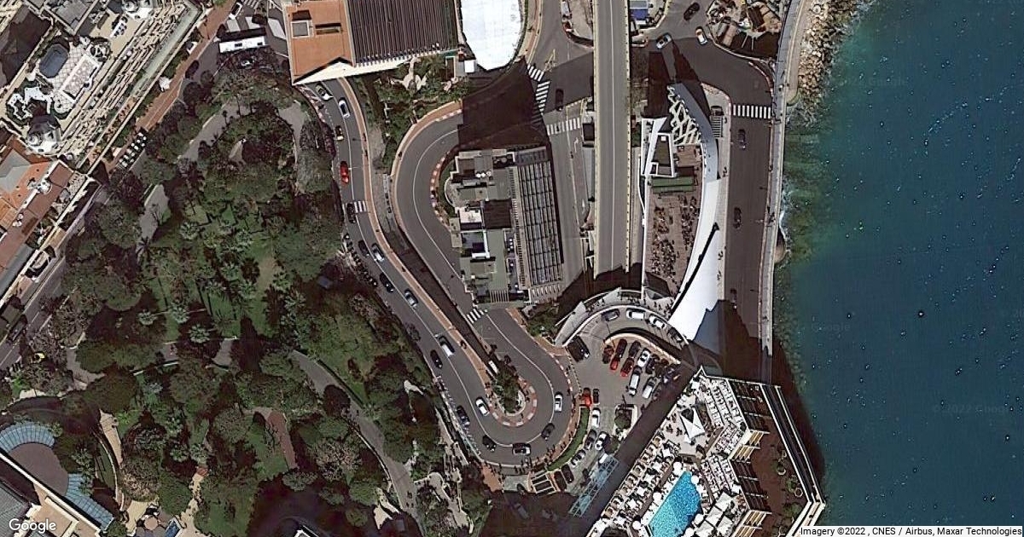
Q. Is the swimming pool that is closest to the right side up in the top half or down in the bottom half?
bottom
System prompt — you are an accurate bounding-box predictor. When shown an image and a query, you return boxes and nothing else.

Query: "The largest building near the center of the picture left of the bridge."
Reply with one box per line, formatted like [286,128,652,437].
[444,145,567,307]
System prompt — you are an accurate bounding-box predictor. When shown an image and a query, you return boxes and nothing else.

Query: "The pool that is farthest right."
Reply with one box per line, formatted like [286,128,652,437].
[645,470,701,537]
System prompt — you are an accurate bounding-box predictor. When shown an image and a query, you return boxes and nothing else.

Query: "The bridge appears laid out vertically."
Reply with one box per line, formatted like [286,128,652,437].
[593,0,631,293]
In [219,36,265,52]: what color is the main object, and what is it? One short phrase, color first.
white vehicle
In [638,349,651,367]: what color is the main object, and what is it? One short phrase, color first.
white vehicle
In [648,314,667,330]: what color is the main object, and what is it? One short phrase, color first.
white car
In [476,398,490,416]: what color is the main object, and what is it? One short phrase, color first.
white car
